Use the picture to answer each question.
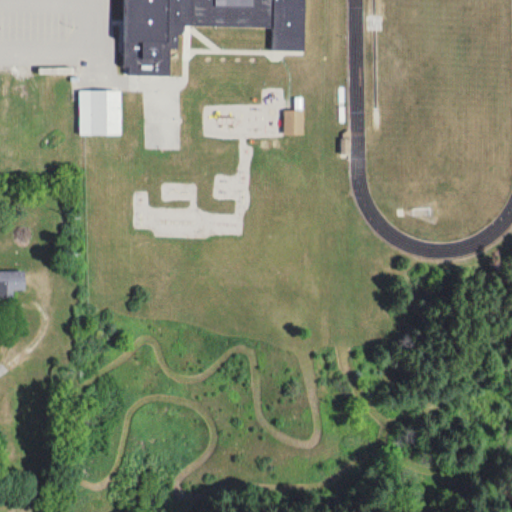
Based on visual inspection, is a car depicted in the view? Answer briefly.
No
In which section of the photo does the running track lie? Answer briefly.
top right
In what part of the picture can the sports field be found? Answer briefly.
top right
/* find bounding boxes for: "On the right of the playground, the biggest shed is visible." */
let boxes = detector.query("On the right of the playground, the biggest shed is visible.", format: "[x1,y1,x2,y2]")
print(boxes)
[284,111,304,136]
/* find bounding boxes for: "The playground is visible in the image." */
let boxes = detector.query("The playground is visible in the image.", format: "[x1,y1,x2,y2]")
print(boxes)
[134,89,284,239]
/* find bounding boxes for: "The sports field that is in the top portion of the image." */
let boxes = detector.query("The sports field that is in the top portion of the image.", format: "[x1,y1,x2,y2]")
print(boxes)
[366,0,512,243]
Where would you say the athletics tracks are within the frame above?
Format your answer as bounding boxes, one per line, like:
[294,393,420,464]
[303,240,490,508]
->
[348,0,512,260]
